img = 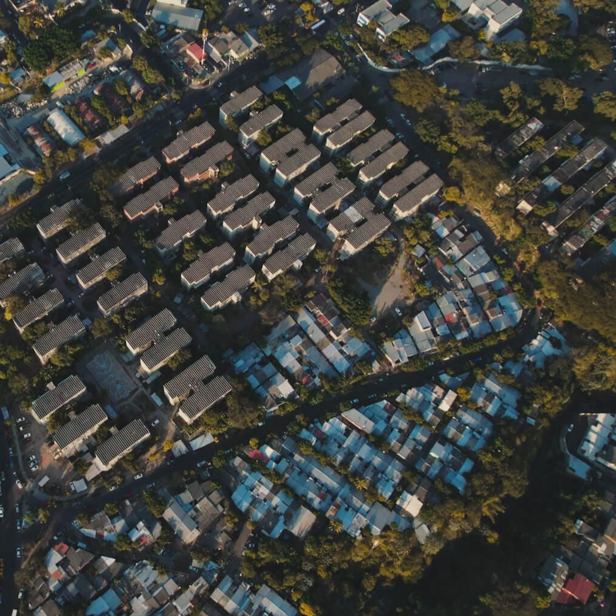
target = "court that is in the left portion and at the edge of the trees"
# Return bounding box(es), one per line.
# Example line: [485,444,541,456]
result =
[79,352,124,397]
